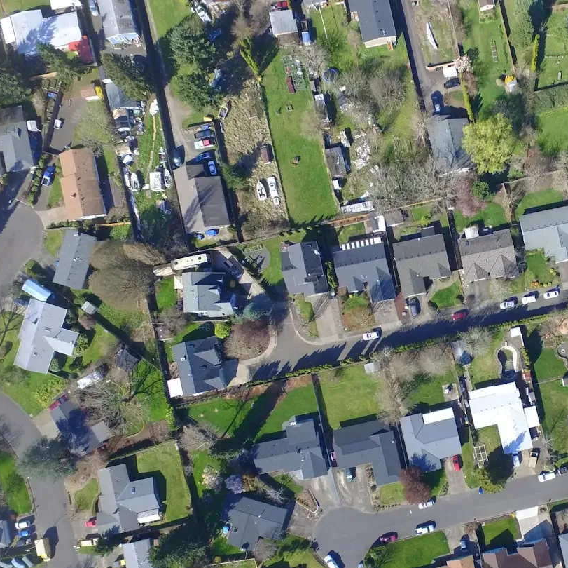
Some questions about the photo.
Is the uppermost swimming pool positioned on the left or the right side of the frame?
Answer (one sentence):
The uppermost swimming pool is on the right side of the image.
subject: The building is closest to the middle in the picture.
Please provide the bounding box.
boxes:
[278,241,329,301]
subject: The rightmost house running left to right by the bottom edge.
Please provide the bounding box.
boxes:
[480,537,555,568]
